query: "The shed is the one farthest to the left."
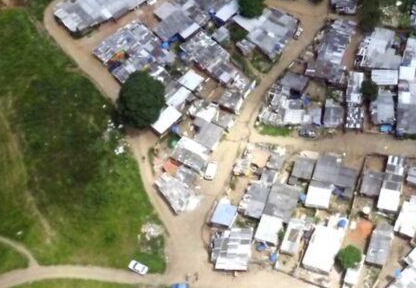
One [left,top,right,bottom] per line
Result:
[58,0,110,42]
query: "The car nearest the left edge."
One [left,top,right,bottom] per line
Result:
[126,258,147,274]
